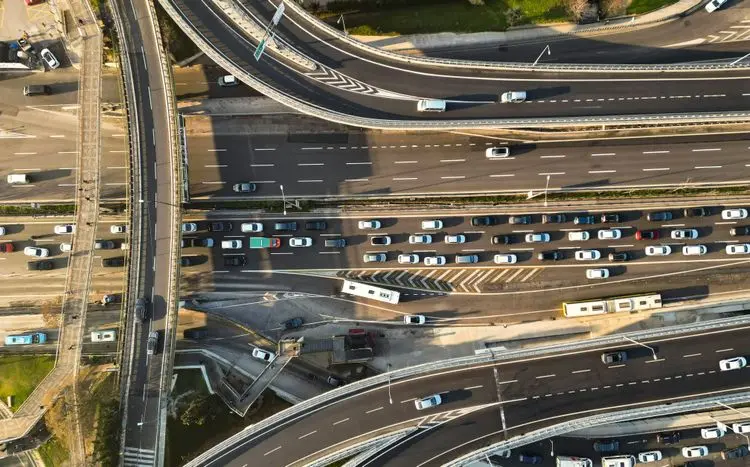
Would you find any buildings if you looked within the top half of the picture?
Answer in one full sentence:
No, I see no building within the top half of the picture.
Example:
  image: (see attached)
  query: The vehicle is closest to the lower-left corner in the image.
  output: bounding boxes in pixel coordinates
[2,332,50,345]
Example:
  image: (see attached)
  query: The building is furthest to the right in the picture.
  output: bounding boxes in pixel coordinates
[301,326,376,363]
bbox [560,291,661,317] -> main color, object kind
white bus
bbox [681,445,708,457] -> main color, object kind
white vehicle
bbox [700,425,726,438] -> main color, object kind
white vehicle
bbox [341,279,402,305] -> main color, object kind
white bus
